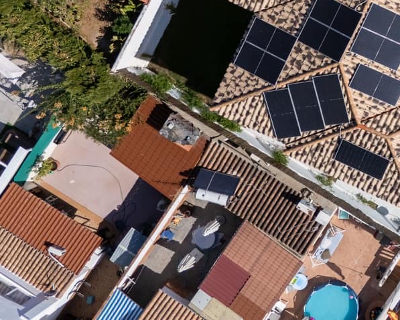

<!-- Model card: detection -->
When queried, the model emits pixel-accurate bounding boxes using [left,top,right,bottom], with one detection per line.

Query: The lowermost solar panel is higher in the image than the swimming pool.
[334,139,391,180]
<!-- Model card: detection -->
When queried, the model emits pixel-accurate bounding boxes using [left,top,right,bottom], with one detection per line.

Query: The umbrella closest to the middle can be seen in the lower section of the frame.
[204,219,225,236]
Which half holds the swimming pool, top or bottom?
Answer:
bottom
